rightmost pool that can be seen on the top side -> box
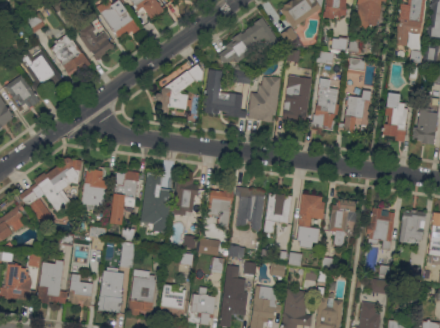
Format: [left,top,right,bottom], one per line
[390,64,406,89]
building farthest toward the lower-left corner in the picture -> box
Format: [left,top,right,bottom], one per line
[0,264,31,300]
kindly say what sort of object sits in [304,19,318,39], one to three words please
swimming pool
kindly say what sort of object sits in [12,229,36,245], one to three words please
swimming pool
